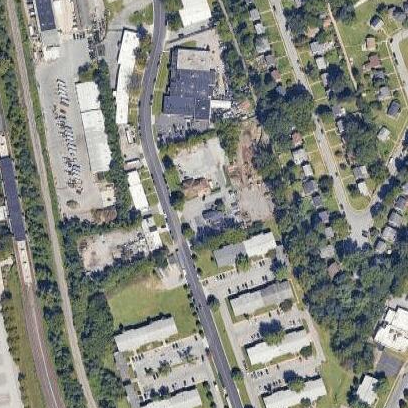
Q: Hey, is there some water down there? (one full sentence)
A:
No, the scene doesn't show any water.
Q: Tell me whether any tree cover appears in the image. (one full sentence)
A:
Yes, there is tree cover in the image.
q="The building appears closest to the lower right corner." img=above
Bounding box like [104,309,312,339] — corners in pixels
[357,376,378,406]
